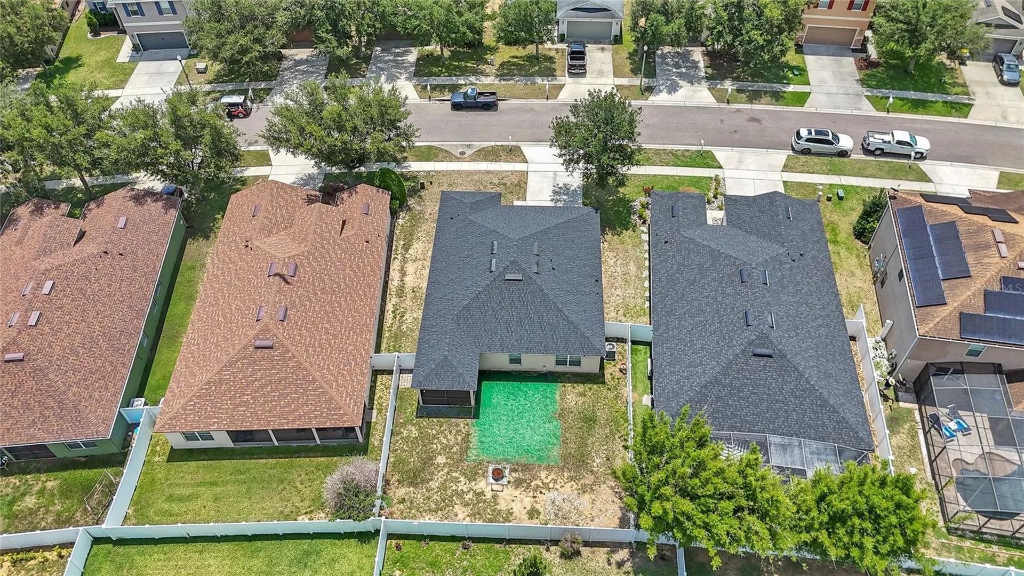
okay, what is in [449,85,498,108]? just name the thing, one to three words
truck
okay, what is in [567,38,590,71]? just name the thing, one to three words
truck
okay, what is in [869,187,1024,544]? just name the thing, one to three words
house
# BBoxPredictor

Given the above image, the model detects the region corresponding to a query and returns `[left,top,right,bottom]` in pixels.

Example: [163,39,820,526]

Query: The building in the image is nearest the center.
[410,190,607,417]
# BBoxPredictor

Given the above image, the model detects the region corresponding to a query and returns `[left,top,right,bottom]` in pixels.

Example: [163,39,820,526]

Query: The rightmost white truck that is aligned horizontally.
[867,133,935,161]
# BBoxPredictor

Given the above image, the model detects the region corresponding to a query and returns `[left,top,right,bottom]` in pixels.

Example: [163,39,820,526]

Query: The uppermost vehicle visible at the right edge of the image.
[989,53,1024,85]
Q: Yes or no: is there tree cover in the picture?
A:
Yes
